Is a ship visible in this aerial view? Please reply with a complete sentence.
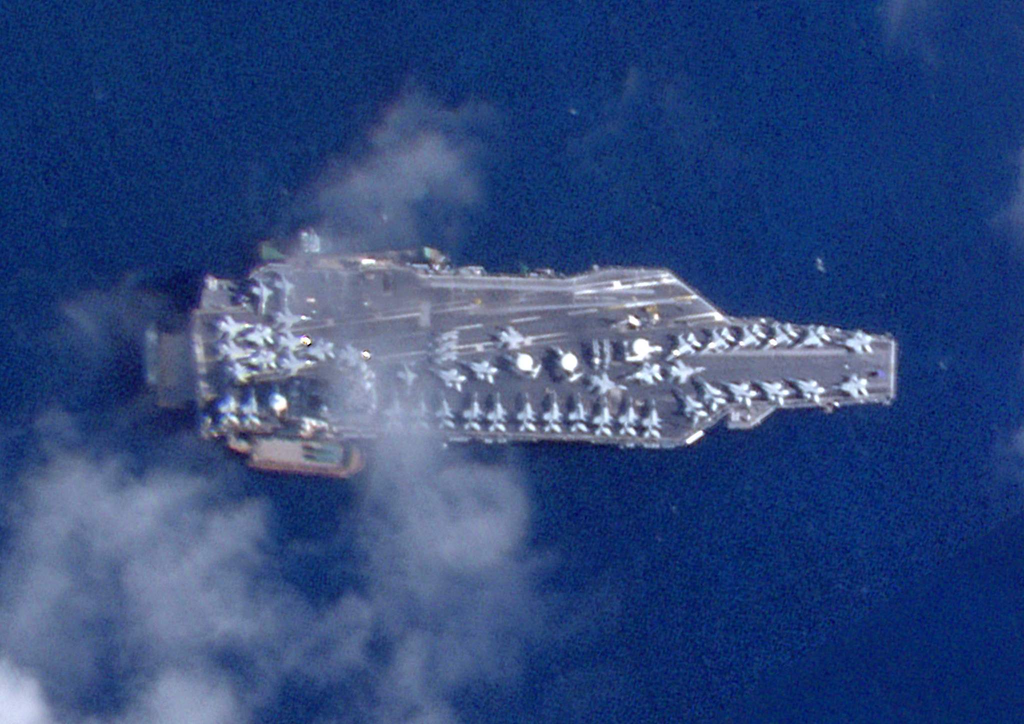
Yes, a ship is visible in the scene.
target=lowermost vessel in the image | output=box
[248,433,363,479]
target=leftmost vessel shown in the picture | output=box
[147,333,196,405]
